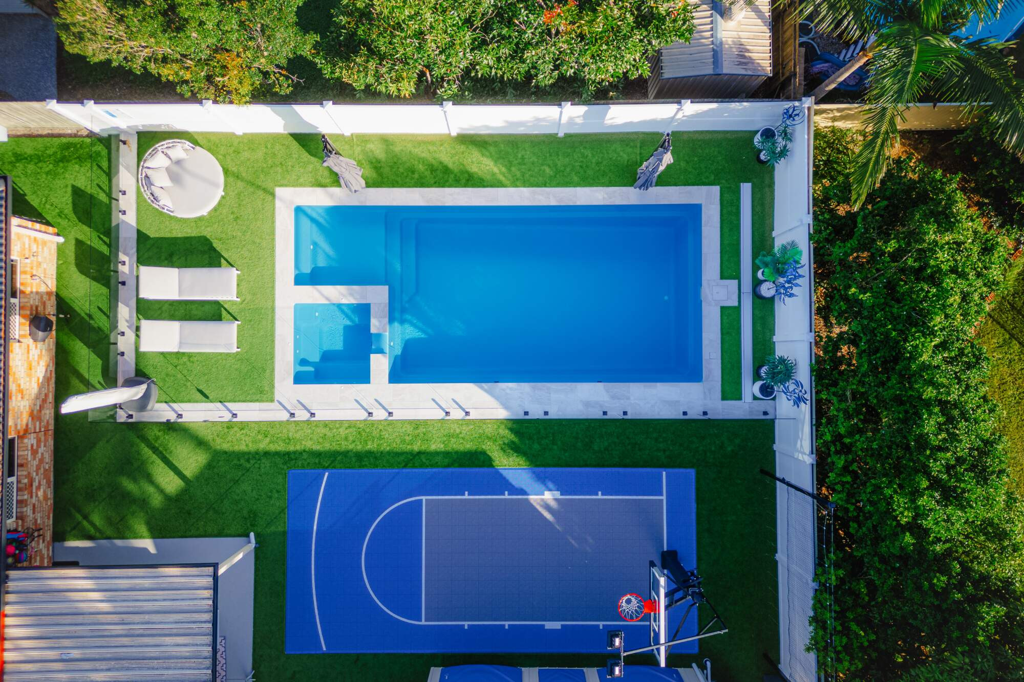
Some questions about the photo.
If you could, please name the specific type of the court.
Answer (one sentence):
It looks like the court is a basketball court.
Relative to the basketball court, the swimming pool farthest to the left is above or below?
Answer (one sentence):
Relative to the basketball court, the swimming pool farthest to the left lies above it.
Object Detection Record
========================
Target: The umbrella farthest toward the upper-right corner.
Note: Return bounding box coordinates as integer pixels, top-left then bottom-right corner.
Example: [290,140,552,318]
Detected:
[632,142,668,186]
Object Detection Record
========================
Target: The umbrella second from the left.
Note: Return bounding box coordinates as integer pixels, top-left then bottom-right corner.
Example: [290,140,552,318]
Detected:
[322,143,362,188]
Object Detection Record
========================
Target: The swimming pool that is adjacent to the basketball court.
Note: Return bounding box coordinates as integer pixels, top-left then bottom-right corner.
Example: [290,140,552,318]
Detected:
[116,133,776,420]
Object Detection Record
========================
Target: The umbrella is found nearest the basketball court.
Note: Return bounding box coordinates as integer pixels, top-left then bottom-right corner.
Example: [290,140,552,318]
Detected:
[62,378,158,412]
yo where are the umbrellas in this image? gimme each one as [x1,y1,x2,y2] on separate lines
[632,142,668,186]
[322,143,362,188]
[62,378,158,412]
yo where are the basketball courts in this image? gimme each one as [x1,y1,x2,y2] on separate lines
[284,469,699,654]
